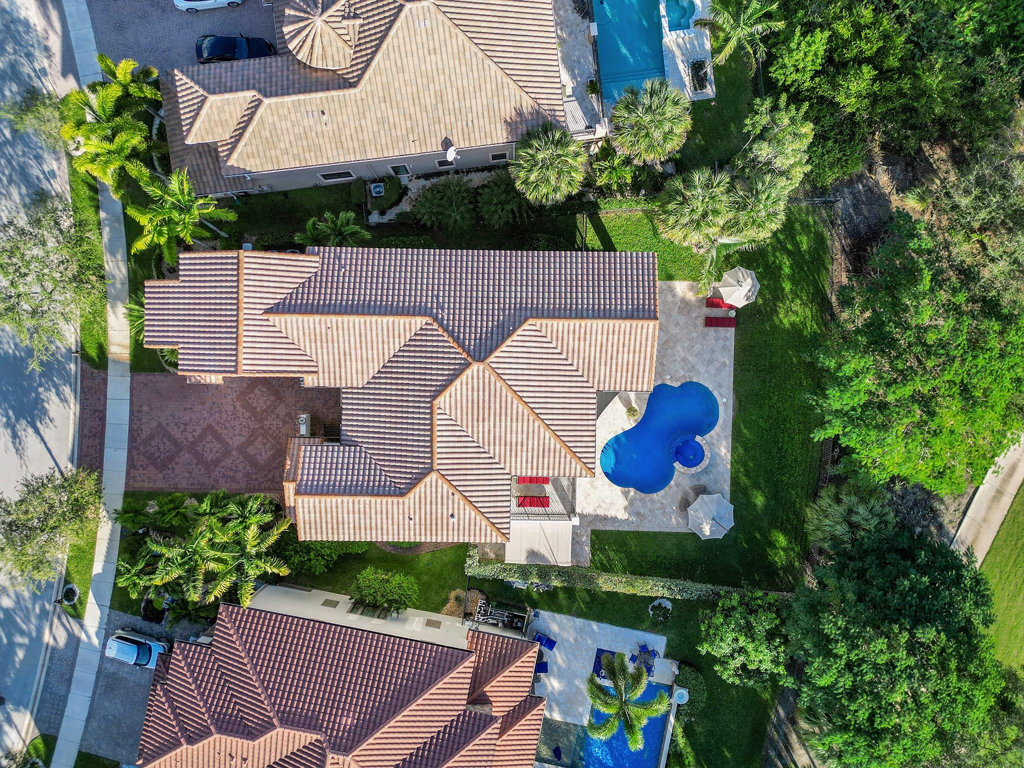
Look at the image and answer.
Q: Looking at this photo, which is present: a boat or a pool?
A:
pool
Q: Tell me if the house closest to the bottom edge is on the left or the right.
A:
left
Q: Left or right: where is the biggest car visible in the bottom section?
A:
left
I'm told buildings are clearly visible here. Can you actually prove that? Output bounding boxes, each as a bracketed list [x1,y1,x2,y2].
[158,0,567,205]
[142,245,660,544]
[135,581,548,768]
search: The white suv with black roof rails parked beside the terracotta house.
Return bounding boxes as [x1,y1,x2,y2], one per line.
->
[101,626,176,672]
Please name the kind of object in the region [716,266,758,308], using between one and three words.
umbrella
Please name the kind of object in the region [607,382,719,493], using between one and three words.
swimming pool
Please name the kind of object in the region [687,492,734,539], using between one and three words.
umbrella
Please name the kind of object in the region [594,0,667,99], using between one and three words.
swimming pool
